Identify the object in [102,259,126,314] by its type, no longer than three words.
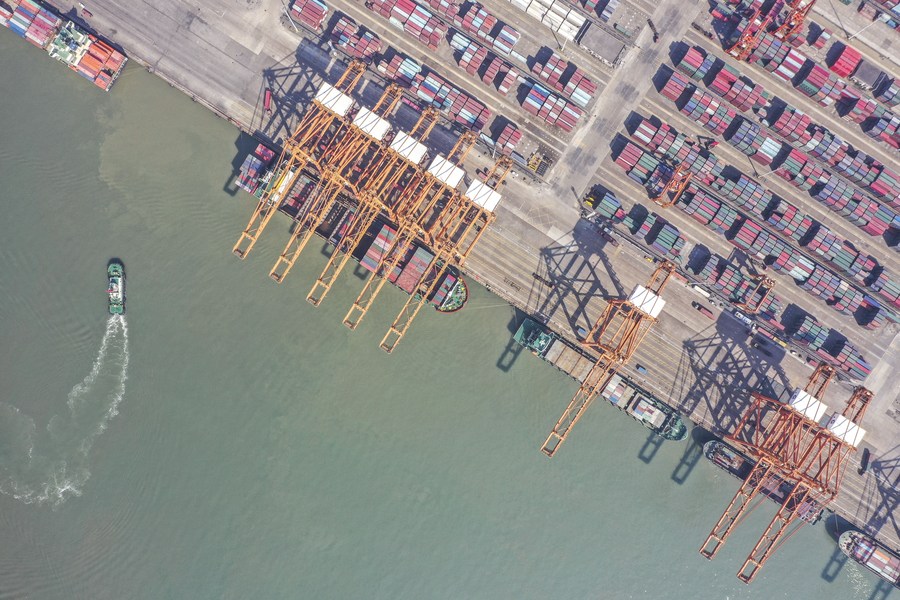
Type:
boat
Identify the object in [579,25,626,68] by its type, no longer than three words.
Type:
shed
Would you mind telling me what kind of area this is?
port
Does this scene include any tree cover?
No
